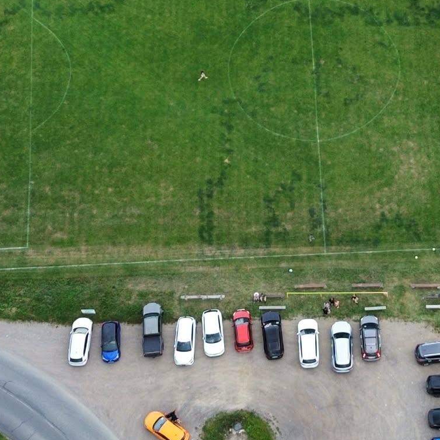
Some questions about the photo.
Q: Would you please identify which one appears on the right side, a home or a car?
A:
car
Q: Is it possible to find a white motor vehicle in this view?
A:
Yes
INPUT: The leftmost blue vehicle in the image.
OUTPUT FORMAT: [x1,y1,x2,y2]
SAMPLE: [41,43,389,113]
[100,322,123,365]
